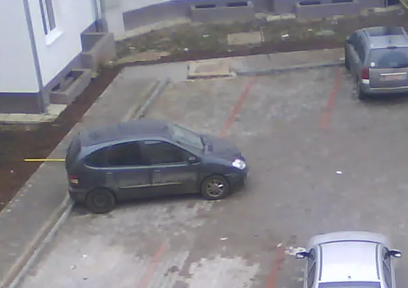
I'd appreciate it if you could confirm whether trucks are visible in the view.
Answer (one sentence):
No, there isn't any truck down there.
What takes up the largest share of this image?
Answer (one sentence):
The largest share of the image is taken up by paved ground.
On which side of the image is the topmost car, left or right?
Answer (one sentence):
It is on the right.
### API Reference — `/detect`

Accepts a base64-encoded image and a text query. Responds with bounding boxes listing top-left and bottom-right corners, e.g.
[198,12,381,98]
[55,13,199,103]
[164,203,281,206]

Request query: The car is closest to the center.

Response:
[70,125,240,213]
